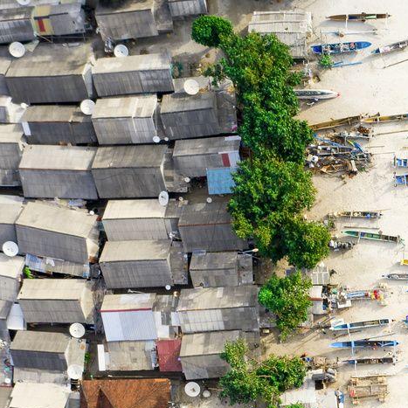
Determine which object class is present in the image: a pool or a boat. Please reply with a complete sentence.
Visible in the photo is a boat.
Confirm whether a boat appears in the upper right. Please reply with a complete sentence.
Yes, a boat is visible in the upper right.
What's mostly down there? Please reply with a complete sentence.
What you mostly see from above here is buildings.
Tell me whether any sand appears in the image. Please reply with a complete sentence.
Yes, the picture does contain sand.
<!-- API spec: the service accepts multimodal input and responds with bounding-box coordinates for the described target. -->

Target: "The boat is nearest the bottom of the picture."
[339,358,404,378]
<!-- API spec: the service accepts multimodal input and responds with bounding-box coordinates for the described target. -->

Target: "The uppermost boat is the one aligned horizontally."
[321,13,397,33]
